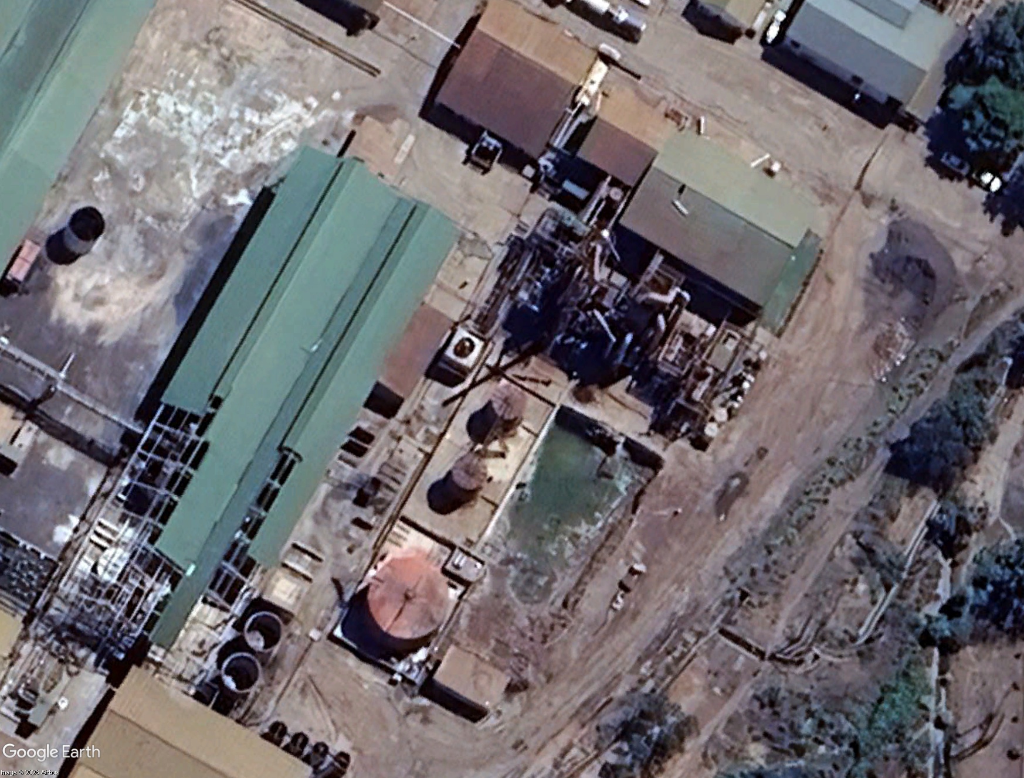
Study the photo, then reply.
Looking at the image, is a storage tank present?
Yes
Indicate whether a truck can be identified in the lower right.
No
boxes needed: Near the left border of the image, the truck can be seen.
[0,240,42,292]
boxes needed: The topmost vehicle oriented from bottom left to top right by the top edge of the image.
[762,10,789,45]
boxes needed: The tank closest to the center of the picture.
[481,381,528,436]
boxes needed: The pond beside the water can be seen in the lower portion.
[493,403,666,571]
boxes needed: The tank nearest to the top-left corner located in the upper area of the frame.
[63,207,105,253]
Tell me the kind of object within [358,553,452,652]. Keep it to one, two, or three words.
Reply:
storage tank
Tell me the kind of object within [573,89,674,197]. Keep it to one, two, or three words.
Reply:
building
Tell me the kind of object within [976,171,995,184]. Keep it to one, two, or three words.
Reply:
vehicle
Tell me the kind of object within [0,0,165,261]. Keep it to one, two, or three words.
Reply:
shed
